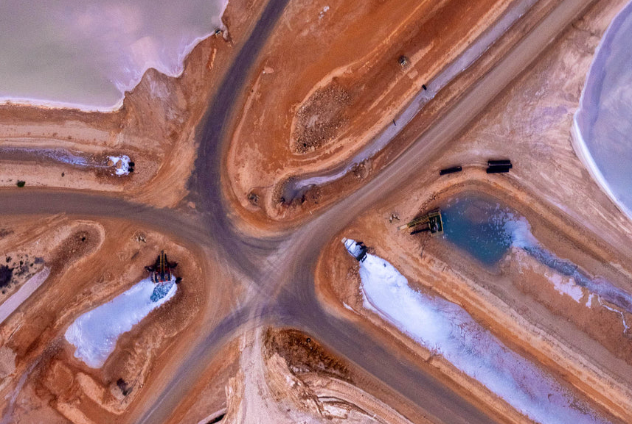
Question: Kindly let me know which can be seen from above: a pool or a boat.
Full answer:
The one in the frame is a pool.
